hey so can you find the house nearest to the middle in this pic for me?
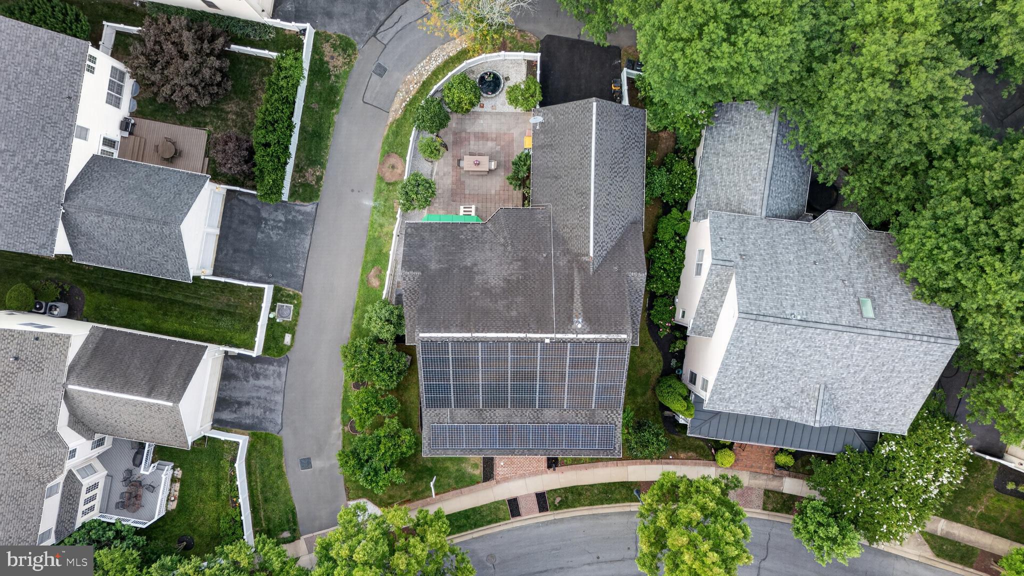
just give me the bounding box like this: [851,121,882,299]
[392,99,648,458]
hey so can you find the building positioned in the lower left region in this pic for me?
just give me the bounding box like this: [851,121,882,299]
[0,321,223,561]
